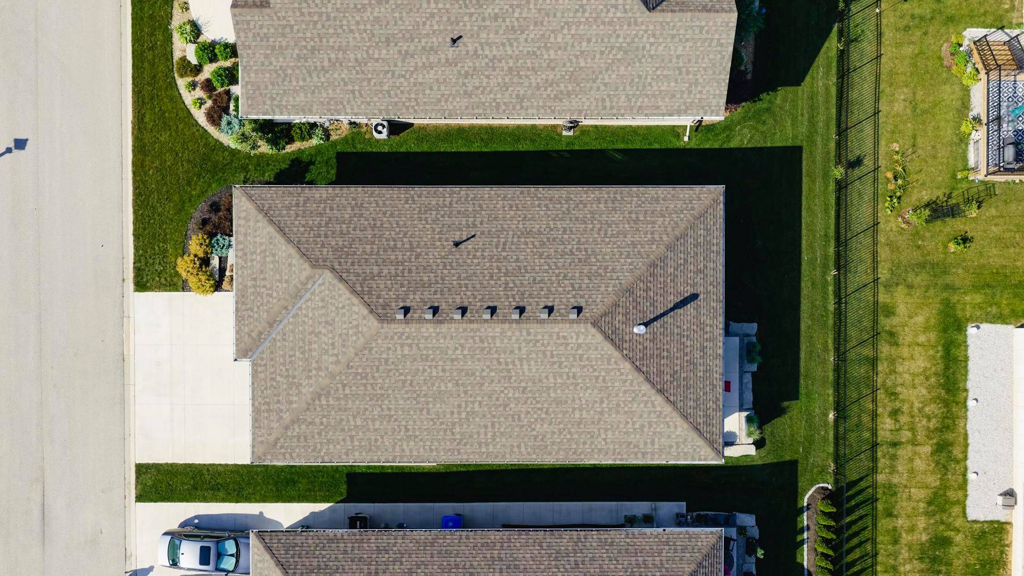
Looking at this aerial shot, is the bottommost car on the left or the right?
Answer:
left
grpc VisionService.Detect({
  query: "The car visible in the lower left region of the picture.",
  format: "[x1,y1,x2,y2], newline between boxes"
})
[156,527,251,576]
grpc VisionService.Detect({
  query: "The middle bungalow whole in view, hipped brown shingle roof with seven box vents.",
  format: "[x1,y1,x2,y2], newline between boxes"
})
[235,187,724,463]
